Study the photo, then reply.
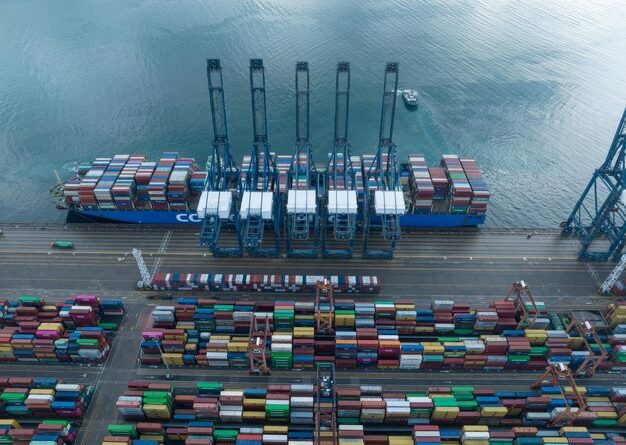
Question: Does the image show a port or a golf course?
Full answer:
What you see here is a port.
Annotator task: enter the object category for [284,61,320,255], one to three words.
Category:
container crane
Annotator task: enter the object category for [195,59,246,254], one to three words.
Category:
container crane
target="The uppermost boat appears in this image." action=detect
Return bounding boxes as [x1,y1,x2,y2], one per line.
[400,89,417,108]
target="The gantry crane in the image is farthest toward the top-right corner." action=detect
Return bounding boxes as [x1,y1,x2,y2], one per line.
[565,119,626,259]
